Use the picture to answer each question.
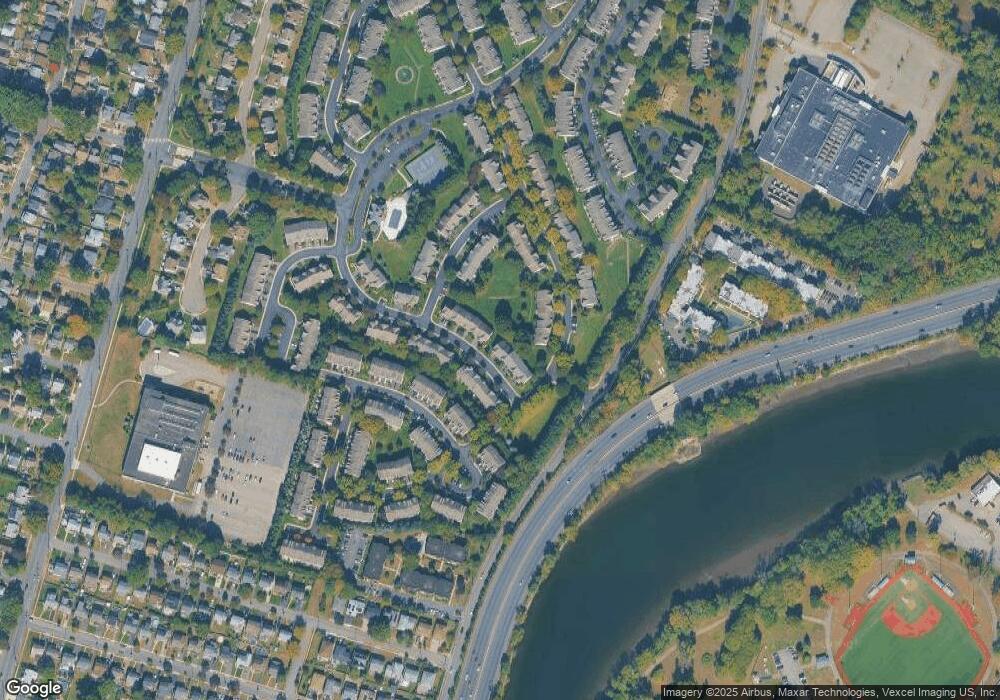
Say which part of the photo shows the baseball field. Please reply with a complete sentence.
The baseball field is located in the bottom right region of the scene.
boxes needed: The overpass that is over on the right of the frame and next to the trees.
[653,381,682,426]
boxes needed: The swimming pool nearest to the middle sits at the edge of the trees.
[383,198,407,240]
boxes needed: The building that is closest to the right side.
[972,474,1000,506]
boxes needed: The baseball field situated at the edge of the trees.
[835,564,991,700]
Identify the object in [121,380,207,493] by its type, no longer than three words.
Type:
building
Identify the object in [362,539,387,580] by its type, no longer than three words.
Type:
building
